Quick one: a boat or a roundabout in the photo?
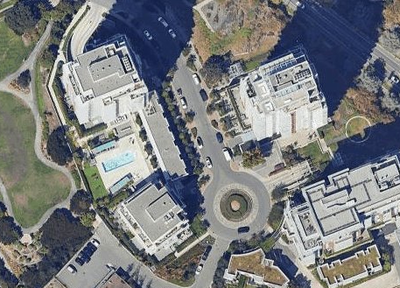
roundabout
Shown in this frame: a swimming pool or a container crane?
swimming pool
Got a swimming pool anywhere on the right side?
No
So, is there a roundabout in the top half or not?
No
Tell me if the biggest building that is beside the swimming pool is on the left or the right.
left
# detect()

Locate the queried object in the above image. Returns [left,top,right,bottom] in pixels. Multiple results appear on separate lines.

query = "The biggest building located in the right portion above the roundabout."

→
[237,53,328,141]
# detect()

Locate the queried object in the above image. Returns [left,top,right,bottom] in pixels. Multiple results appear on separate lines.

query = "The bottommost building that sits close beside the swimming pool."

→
[118,184,193,264]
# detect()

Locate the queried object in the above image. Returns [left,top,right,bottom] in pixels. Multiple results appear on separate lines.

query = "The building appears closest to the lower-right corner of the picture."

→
[317,245,381,288]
